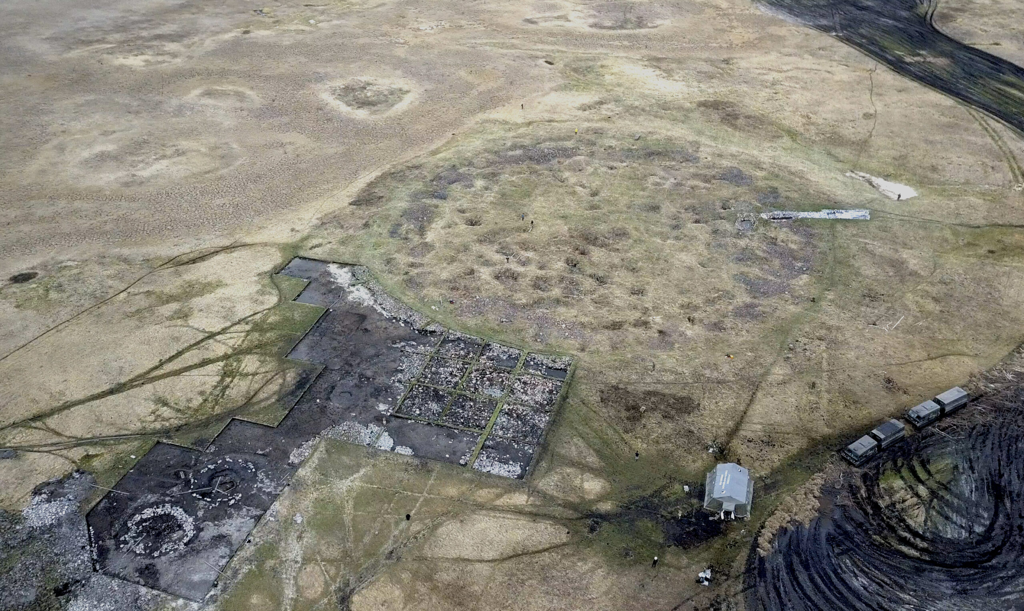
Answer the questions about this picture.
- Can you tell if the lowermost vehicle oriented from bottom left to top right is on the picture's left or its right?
right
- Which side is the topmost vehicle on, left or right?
right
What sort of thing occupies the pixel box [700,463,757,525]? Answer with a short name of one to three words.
tent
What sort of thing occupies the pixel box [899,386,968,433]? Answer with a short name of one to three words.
vehicle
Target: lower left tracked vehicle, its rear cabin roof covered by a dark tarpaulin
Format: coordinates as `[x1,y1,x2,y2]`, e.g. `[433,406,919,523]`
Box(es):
[838,419,905,472]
